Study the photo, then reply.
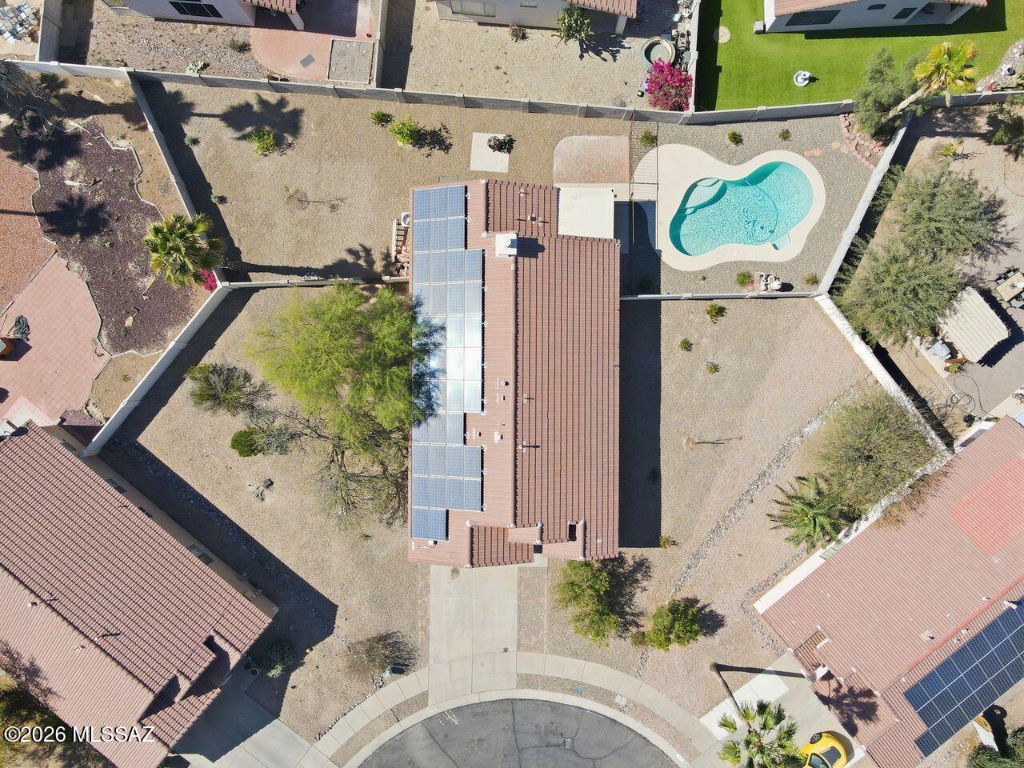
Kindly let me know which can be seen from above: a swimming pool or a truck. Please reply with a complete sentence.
It is a swimming pool that can be seen here.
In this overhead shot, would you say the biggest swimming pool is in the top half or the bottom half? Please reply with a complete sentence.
Seen from above, the biggest swimming pool lies in the top half of the view.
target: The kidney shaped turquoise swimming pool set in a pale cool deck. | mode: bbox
[665,157,819,259]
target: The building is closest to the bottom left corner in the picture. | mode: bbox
[0,430,280,768]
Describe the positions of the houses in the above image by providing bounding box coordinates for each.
[754,420,1024,768]
[109,0,302,28]
[410,178,620,570]
[0,430,280,768]
[426,0,643,34]
[766,0,989,32]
